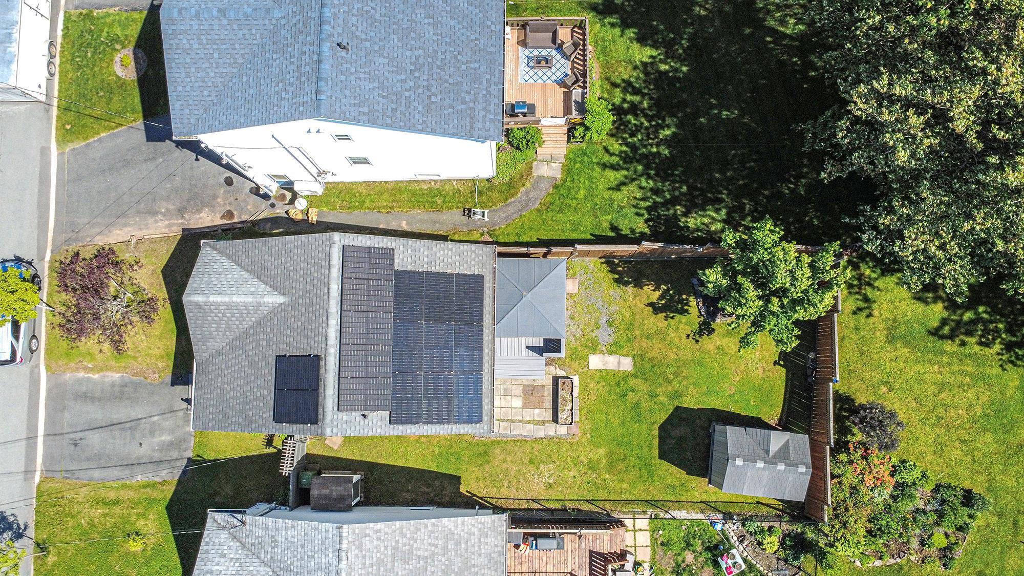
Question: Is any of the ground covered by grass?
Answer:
Yes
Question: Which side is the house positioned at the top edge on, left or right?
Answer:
left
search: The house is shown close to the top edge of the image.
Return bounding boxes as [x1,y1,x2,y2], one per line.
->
[154,0,508,192]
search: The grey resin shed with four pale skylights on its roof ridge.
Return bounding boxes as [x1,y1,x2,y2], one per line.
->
[700,423,812,501]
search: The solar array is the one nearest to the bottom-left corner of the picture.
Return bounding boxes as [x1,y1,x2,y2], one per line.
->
[274,355,322,424]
